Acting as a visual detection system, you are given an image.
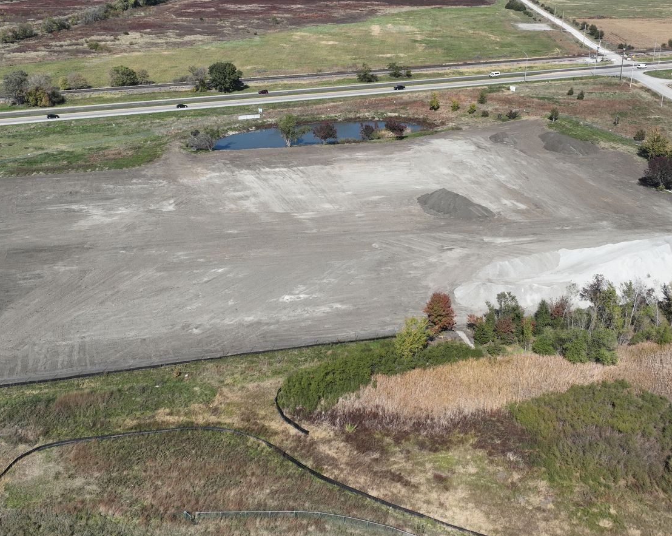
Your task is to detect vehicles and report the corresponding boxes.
[174,102,189,108]
[636,61,649,67]
[392,83,407,90]
[488,69,501,76]
[257,89,269,94]
[47,113,60,118]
